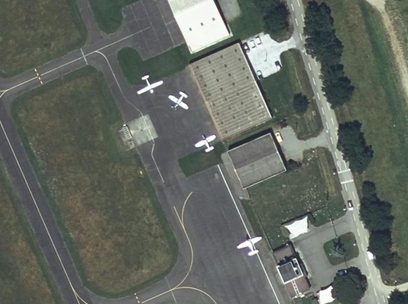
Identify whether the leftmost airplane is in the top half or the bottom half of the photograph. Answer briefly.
top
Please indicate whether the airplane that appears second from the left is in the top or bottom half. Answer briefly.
top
